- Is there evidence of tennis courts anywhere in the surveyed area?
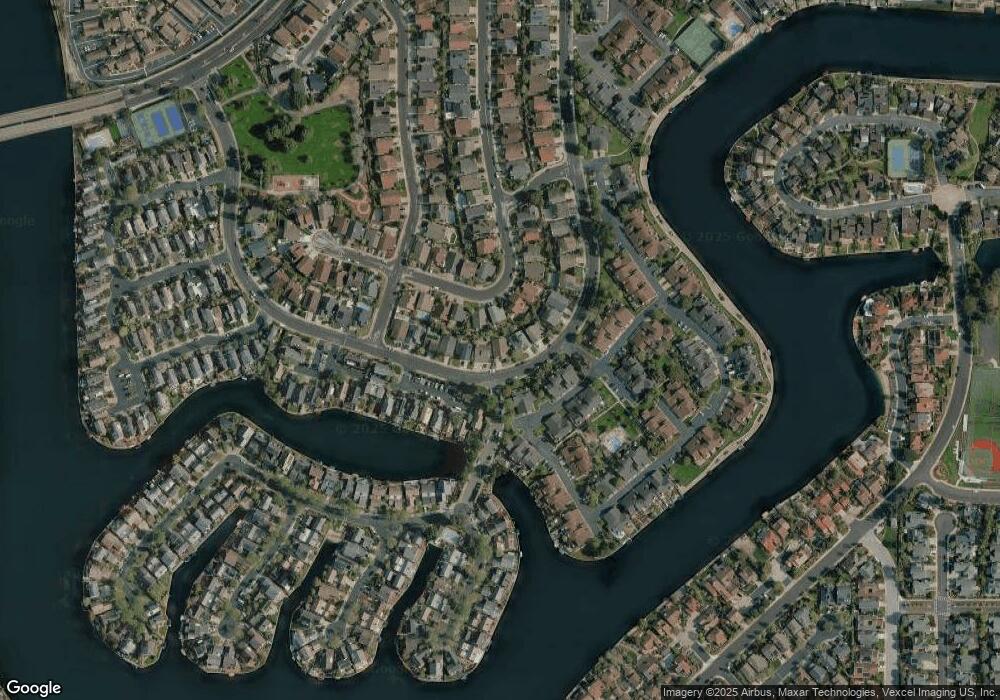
Yes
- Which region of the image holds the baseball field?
right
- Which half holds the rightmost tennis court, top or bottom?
top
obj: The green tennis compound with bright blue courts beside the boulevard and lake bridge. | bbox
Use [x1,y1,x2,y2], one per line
[132,99,185,147]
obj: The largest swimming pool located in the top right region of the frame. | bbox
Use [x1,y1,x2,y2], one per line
[719,16,745,39]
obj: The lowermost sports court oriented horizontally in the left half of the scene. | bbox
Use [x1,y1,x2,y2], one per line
[272,176,319,191]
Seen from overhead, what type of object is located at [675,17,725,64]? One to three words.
tennis court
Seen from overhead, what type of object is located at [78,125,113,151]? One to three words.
swimming pool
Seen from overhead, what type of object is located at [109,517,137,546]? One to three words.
house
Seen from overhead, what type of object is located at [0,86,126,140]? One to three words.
bridge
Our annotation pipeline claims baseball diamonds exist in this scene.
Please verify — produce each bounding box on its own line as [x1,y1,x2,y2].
[961,367,1000,480]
